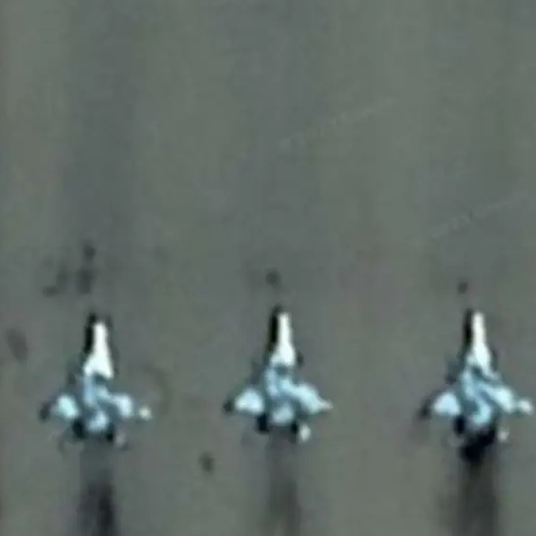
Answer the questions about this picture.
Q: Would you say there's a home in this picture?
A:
No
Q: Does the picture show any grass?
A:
No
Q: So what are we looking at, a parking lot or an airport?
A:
airport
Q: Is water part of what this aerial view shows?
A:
No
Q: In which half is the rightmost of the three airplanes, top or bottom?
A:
bottom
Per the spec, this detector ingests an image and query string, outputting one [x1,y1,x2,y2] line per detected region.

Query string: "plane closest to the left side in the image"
[51,321,148,447]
